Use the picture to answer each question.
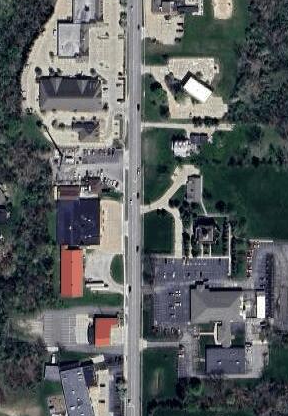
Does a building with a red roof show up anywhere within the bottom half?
Yes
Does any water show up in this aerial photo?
No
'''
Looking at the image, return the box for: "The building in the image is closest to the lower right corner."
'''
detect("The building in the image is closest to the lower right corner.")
[191,285,266,375]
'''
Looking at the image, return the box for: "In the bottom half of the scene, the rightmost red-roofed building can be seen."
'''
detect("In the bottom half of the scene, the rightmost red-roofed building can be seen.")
[94,317,118,348]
